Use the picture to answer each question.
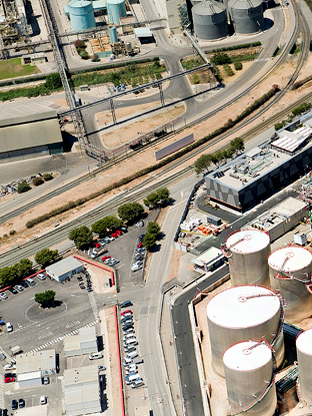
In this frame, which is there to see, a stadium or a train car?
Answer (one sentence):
There is a train car in the scene.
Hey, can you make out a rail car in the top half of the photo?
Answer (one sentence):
Yes, a rail car appears in the top half of the photo.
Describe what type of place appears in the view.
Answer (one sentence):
This looks like an industrial area.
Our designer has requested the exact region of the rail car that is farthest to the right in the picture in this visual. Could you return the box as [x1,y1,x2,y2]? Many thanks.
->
[170,116,195,133]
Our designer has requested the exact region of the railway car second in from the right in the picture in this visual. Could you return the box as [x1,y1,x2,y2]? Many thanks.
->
[145,127,169,144]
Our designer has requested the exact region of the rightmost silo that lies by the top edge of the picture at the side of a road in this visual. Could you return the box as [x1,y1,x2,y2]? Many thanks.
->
[229,0,263,33]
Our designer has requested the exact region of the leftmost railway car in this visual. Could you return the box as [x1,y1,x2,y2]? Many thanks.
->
[126,135,152,151]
